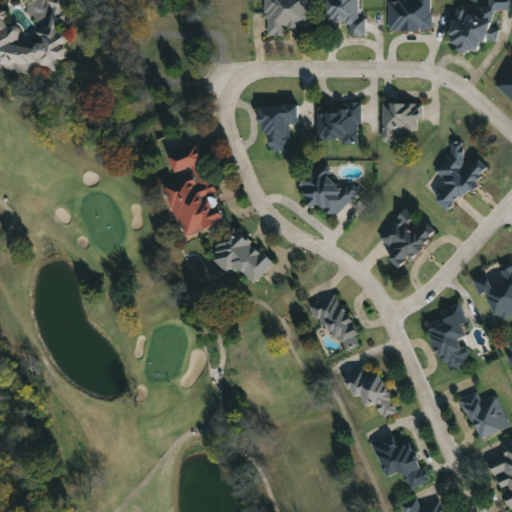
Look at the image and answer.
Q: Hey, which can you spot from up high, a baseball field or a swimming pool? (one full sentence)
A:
There is a swimming pool in the scene.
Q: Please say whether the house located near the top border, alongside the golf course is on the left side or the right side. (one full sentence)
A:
The house located near the top border, alongside the golf course sits on the left side.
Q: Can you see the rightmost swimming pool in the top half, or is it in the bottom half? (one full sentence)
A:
The rightmost swimming pool is in the bottom half of the image.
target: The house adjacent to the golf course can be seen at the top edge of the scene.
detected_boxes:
[0,0,71,76]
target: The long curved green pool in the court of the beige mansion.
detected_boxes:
[8,1,38,36]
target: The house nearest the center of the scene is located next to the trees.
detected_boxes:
[214,236,275,286]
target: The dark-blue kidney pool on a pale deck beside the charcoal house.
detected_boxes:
[464,326,490,354]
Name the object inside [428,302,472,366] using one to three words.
house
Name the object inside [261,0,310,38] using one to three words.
house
